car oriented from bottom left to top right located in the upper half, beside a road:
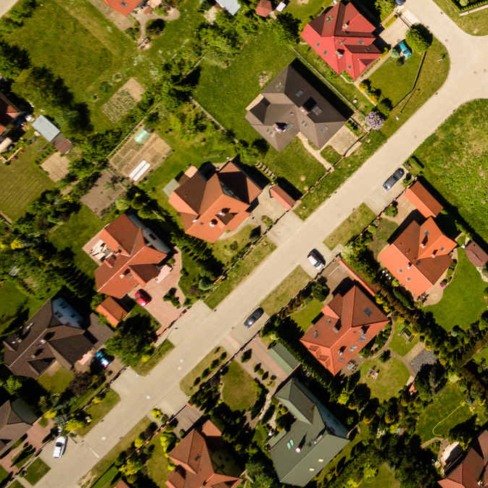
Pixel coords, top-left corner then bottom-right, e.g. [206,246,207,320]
[381,166,407,193]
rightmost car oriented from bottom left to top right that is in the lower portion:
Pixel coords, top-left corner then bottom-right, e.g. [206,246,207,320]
[240,304,268,331]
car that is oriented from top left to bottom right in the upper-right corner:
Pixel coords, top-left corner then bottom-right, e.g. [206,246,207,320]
[396,37,414,60]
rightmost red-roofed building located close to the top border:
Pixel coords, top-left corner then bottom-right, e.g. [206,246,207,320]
[300,1,382,80]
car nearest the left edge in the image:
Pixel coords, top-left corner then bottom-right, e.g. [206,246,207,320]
[52,432,71,462]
